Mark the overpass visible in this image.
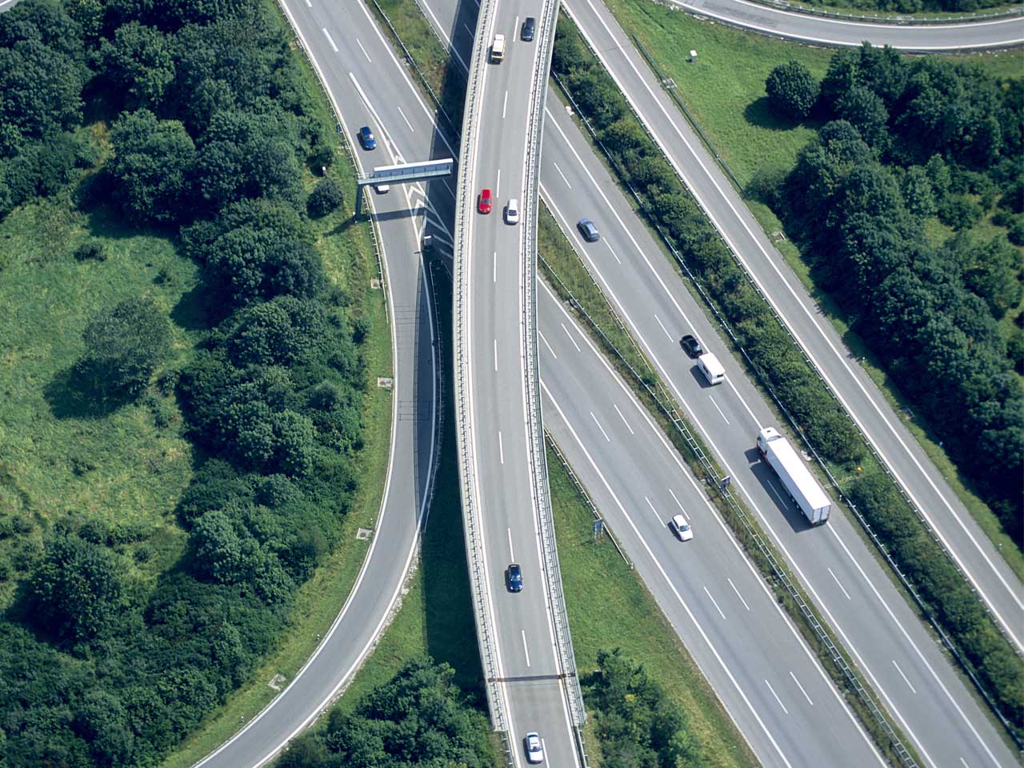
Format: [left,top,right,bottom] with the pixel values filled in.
[453,0,585,741]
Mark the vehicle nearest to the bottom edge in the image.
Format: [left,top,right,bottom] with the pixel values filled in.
[525,733,543,763]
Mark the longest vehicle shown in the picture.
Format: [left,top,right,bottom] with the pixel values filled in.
[758,431,830,525]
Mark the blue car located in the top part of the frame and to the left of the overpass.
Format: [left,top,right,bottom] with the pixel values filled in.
[360,127,376,150]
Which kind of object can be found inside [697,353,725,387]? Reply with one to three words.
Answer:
camper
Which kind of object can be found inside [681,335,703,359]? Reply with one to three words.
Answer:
car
